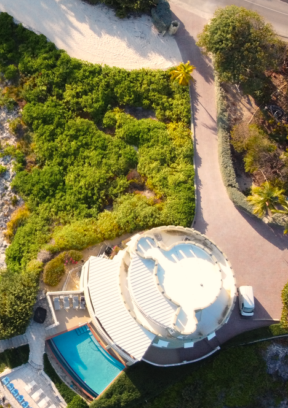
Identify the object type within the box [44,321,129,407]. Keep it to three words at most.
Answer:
swimming pool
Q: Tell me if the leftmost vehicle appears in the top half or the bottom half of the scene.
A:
bottom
